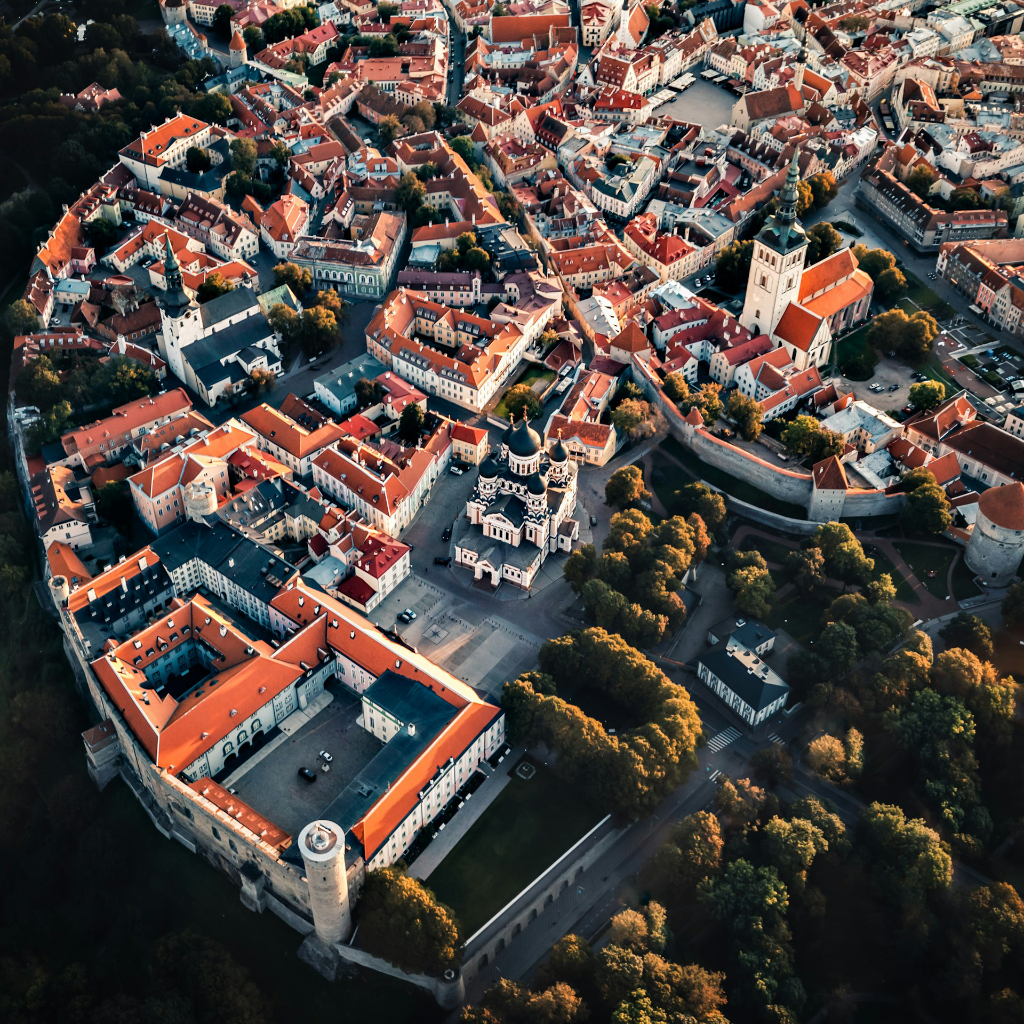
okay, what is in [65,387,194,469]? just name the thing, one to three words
house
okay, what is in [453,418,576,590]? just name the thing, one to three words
church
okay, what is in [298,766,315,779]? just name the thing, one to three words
vehicle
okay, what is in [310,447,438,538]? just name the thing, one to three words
building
